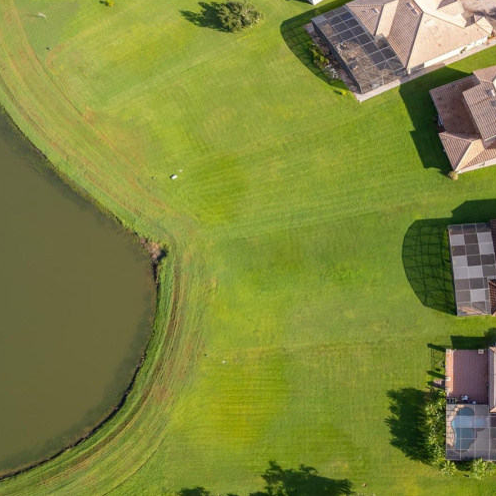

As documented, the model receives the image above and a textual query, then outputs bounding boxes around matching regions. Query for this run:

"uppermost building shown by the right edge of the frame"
[346,0,493,76]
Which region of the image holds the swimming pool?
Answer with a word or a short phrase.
bottom right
